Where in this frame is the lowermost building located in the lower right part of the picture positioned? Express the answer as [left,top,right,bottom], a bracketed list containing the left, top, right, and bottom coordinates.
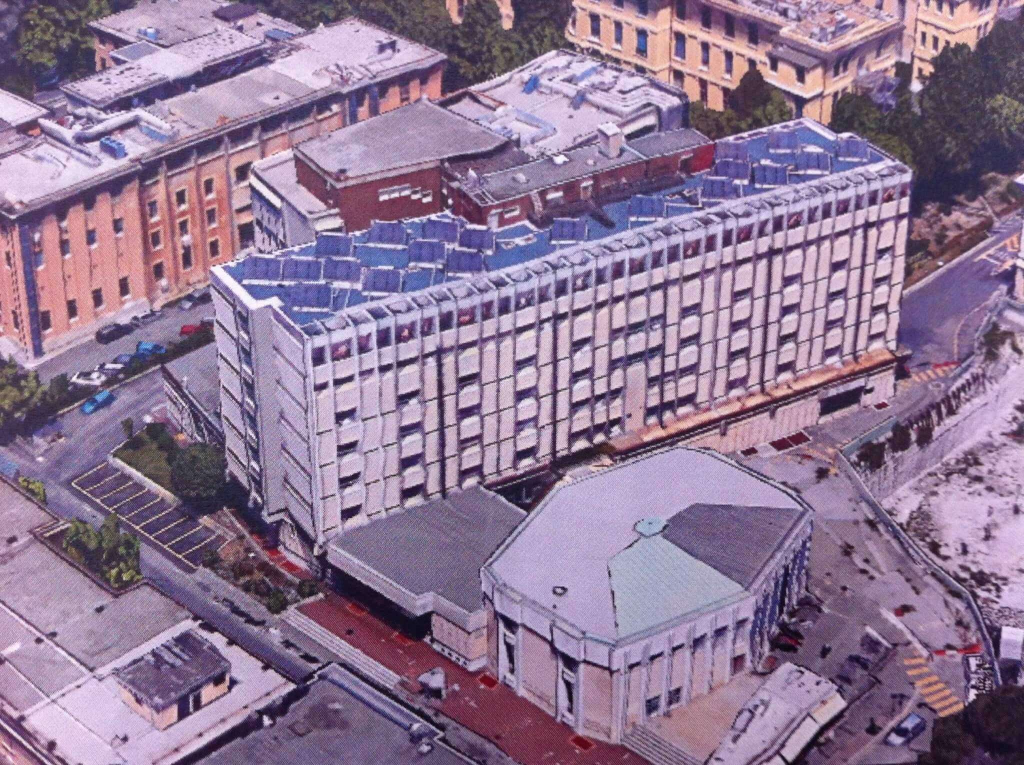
[704,662,844,765]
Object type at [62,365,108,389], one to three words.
car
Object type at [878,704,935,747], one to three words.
car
